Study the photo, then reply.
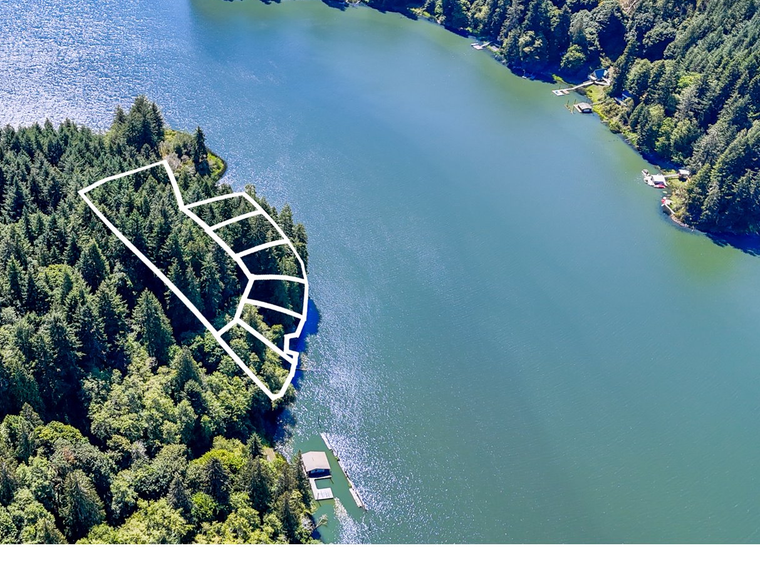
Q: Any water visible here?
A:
Yes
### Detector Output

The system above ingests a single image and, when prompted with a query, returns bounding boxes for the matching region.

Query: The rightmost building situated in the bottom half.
[301,451,330,475]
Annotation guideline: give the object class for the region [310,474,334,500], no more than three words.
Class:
pier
